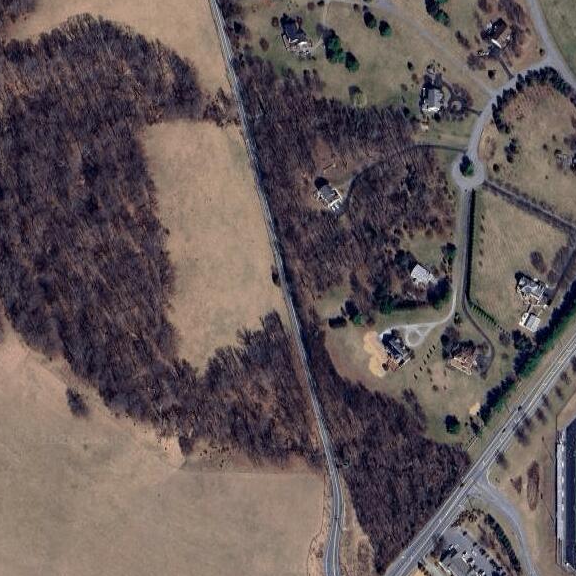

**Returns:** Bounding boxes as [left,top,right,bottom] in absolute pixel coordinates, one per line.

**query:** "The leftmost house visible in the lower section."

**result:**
[380,334,408,367]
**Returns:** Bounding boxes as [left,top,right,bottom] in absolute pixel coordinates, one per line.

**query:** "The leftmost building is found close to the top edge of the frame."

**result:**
[281,21,308,51]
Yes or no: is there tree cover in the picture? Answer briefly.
Yes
